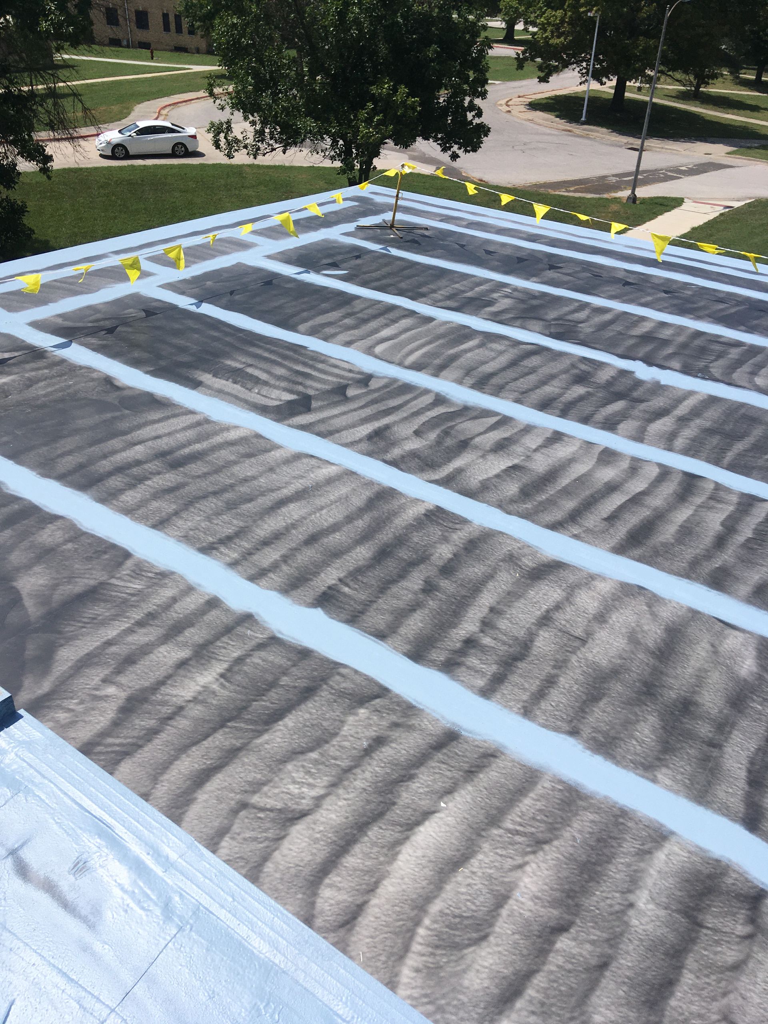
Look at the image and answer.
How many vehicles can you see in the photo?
1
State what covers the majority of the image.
buildings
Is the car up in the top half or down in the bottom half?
top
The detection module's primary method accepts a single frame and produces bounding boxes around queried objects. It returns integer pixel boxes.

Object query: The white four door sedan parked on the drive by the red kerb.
[87,115,199,156]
